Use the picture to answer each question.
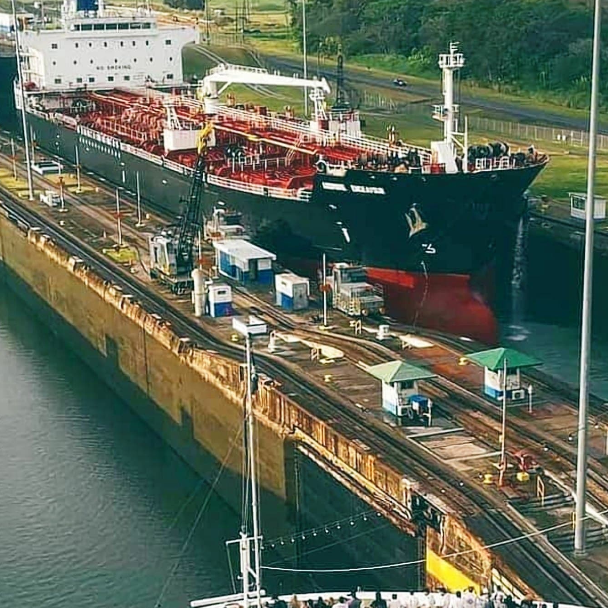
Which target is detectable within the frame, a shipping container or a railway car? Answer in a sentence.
This aerial view contains a railway car.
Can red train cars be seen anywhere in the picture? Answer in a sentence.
No, this view has no red train car in it.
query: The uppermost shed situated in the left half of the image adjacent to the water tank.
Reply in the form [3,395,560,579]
[215,233,262,282]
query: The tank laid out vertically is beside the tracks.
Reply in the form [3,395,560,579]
[189,275,208,316]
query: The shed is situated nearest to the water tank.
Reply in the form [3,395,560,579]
[208,287,233,319]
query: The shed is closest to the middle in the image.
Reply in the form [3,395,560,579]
[276,277,308,311]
